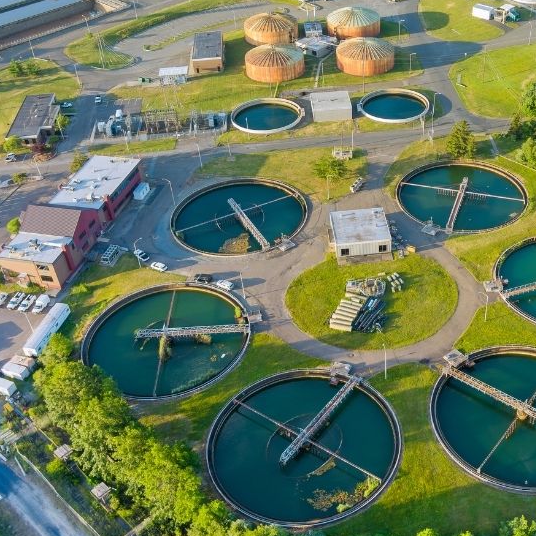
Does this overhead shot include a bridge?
Yes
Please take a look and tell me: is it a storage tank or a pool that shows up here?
storage tank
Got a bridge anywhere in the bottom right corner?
Yes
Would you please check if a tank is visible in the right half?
Yes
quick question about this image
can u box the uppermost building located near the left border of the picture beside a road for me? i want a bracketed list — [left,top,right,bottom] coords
[6,94,61,147]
